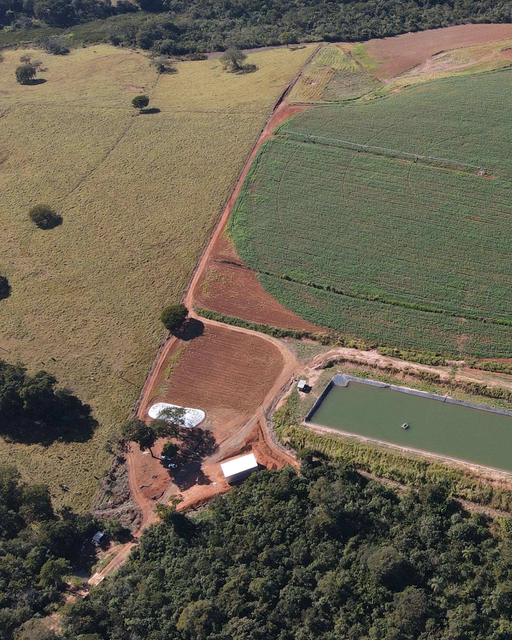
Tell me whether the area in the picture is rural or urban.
rural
